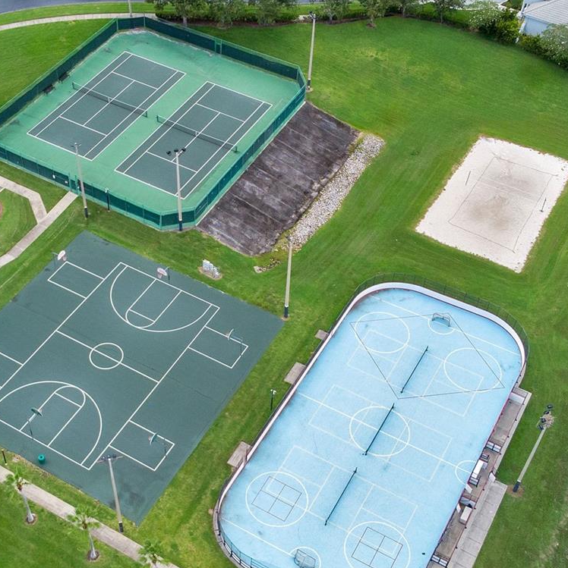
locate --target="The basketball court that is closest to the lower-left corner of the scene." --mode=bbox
[0,230,283,525]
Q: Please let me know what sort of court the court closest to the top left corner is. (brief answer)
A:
tennis court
